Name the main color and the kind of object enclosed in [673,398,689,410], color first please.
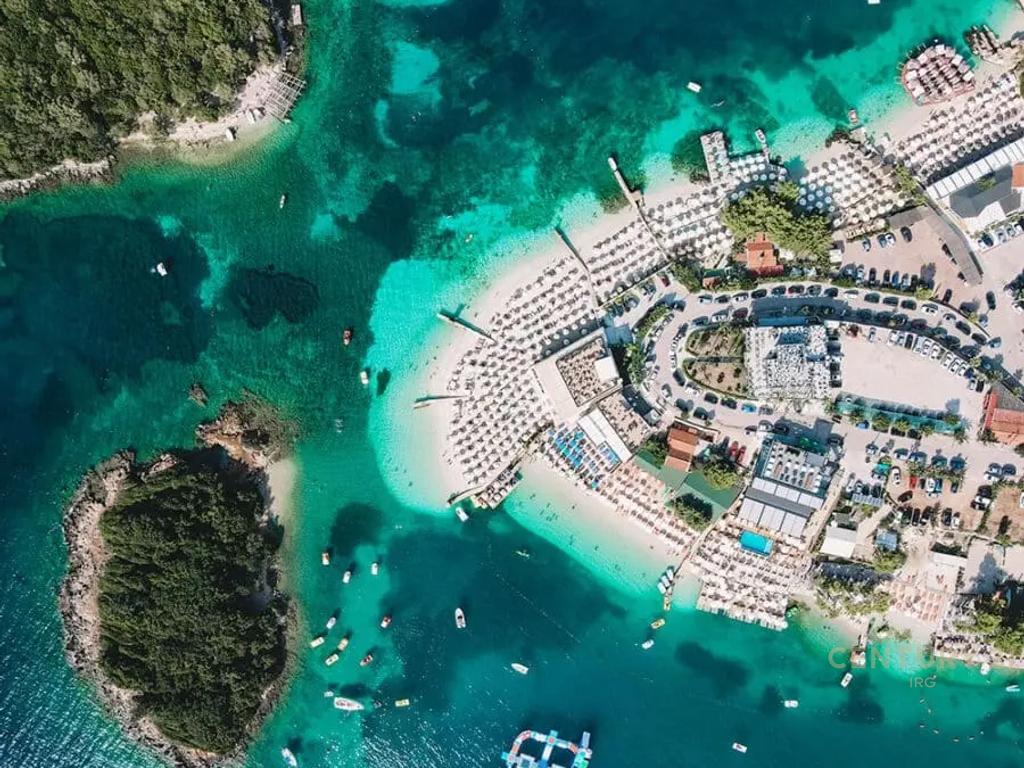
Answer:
black vehicle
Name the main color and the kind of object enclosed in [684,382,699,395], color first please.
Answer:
white vehicle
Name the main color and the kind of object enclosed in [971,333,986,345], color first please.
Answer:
black vehicle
